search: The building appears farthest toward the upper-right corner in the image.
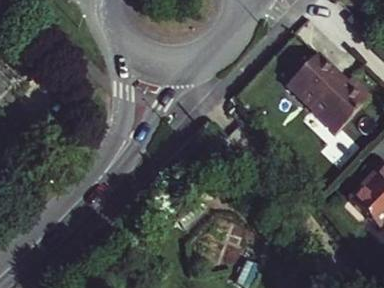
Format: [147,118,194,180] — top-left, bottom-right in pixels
[288,52,378,132]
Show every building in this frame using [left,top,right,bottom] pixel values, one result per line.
[355,166,384,226]
[236,260,256,288]
[288,52,378,132]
